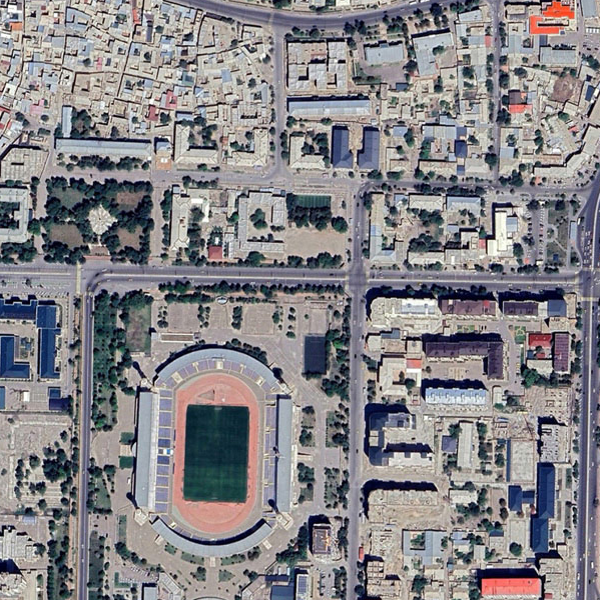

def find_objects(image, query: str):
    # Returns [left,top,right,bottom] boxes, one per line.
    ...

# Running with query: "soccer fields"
[185,406,249,502]
[297,195,330,207]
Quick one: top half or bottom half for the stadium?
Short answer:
bottom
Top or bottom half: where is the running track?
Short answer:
bottom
